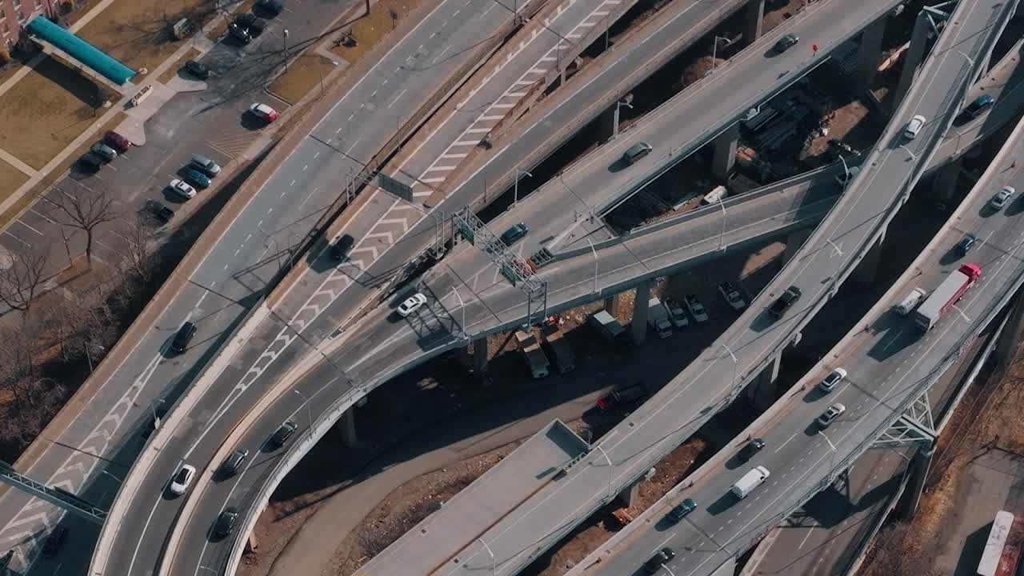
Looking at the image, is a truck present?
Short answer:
Yes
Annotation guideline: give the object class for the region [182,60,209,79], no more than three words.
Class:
car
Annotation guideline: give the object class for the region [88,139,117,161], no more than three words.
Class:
car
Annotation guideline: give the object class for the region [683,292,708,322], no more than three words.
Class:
truck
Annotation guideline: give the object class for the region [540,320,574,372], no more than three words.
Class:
truck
